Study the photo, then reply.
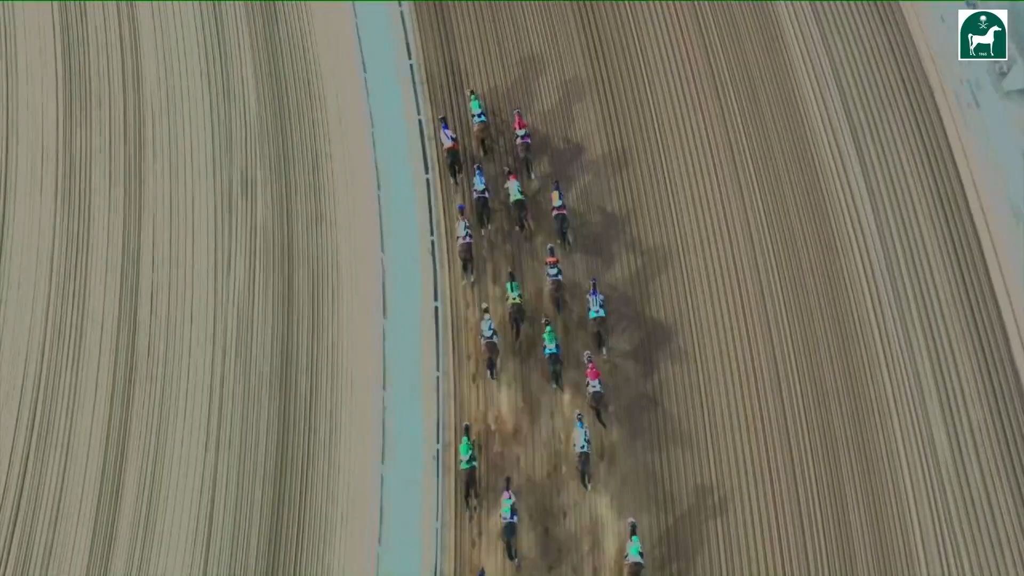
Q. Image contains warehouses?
No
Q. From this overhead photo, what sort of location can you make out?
sports ground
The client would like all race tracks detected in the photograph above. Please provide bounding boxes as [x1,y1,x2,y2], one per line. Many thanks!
[412,0,1024,576]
